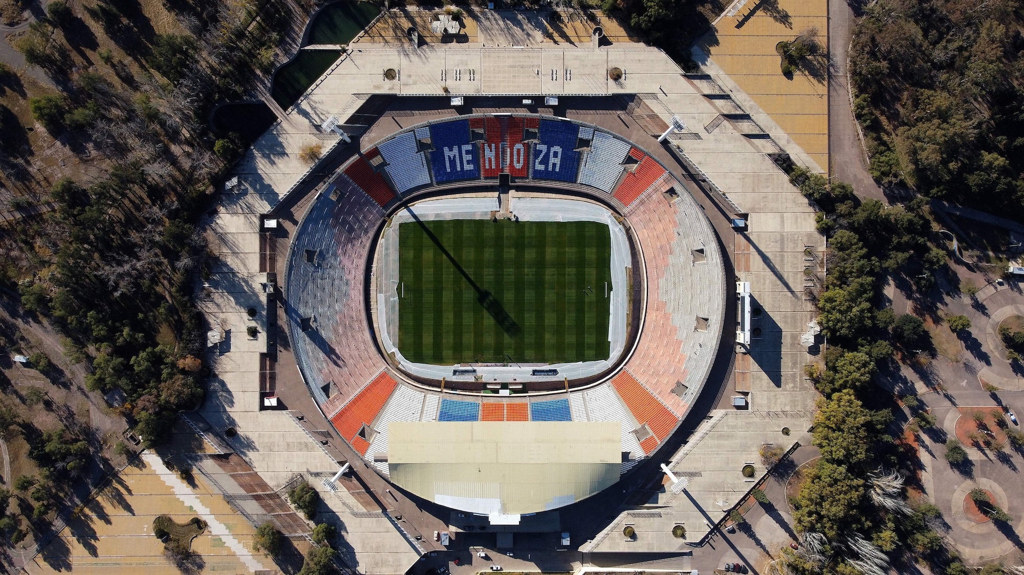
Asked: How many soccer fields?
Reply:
one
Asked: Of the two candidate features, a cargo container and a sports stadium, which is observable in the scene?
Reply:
sports stadium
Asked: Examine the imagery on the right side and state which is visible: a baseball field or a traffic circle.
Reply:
traffic circle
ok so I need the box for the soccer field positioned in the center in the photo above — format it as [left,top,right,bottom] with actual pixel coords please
[398,218,612,366]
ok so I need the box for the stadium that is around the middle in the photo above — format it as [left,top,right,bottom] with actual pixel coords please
[282,111,728,548]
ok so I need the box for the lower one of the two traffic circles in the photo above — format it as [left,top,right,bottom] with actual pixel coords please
[952,479,1007,534]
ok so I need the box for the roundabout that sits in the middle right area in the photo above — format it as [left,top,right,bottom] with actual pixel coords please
[988,299,1024,362]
